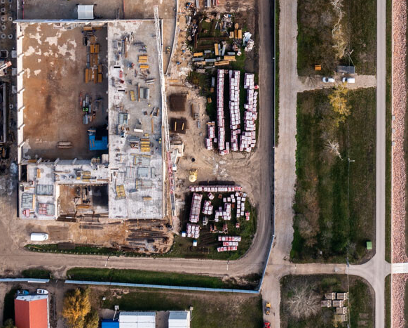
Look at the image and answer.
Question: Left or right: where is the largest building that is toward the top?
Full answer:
The largest building that is toward the top sits on the left side.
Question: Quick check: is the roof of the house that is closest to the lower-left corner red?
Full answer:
Yes, the roof of the house that is closest to the lower-left corner appears red.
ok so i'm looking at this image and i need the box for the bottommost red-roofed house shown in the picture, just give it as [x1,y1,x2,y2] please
[15,293,49,328]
